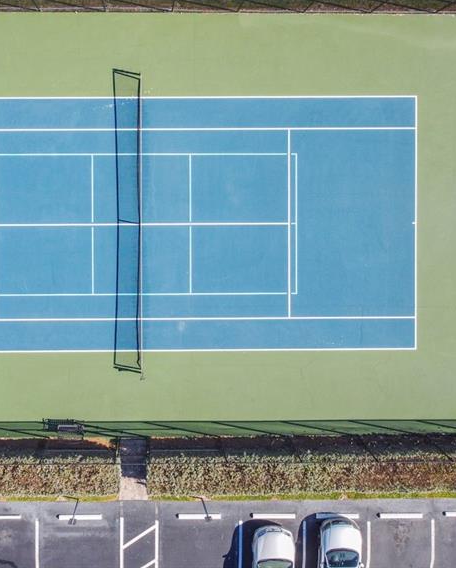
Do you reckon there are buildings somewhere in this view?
No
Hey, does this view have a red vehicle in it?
No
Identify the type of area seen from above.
sports ground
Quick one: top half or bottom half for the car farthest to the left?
bottom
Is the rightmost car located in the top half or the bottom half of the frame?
bottom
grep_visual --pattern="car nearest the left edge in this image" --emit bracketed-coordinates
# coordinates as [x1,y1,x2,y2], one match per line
[250,525,294,568]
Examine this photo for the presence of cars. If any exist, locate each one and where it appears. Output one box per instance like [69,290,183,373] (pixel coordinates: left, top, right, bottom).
[316,517,369,568]
[250,525,294,568]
